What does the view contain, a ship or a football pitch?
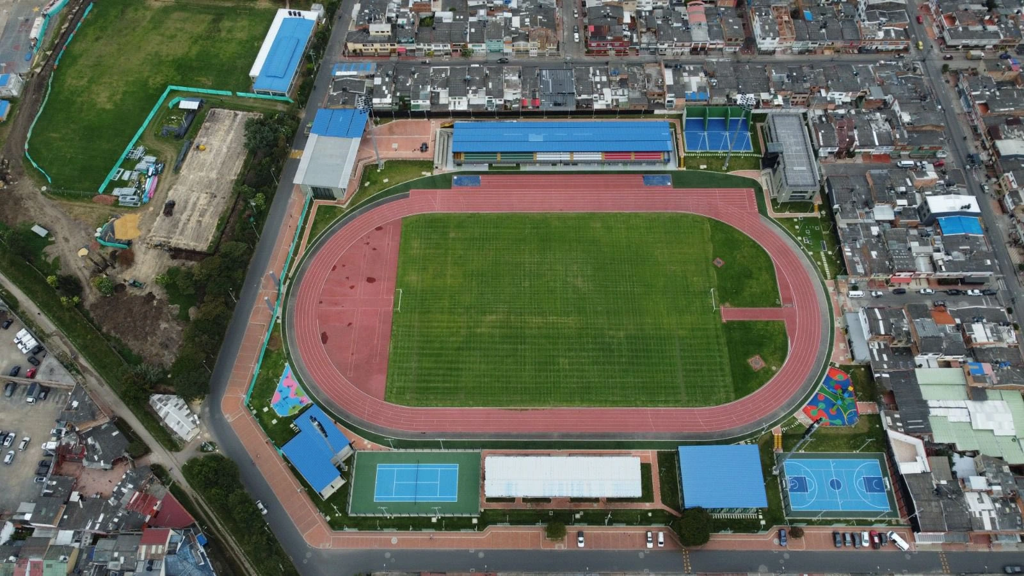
football pitch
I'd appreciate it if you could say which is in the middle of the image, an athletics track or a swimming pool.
athletics track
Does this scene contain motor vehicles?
Yes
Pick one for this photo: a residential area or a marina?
residential area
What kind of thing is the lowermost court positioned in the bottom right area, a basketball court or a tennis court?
basketball court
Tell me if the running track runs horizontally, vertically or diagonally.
horizontally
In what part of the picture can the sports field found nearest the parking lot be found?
top left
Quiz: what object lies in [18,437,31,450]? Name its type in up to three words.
vehicle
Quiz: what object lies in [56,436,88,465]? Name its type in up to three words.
house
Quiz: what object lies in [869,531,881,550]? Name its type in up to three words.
vehicle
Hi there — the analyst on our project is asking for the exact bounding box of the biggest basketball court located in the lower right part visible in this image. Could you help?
[772,452,903,519]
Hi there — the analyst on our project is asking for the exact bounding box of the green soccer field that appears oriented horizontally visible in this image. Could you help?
[386,213,798,407]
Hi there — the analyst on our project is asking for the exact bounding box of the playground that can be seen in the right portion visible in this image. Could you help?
[803,366,860,427]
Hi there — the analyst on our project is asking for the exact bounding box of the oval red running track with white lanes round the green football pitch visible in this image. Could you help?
[280,169,835,450]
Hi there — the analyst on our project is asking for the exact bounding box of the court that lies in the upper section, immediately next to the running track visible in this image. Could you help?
[685,106,756,151]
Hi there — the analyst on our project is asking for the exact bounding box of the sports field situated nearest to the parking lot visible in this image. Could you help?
[26,0,282,194]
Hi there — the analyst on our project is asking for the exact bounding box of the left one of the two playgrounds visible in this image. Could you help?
[272,363,313,417]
